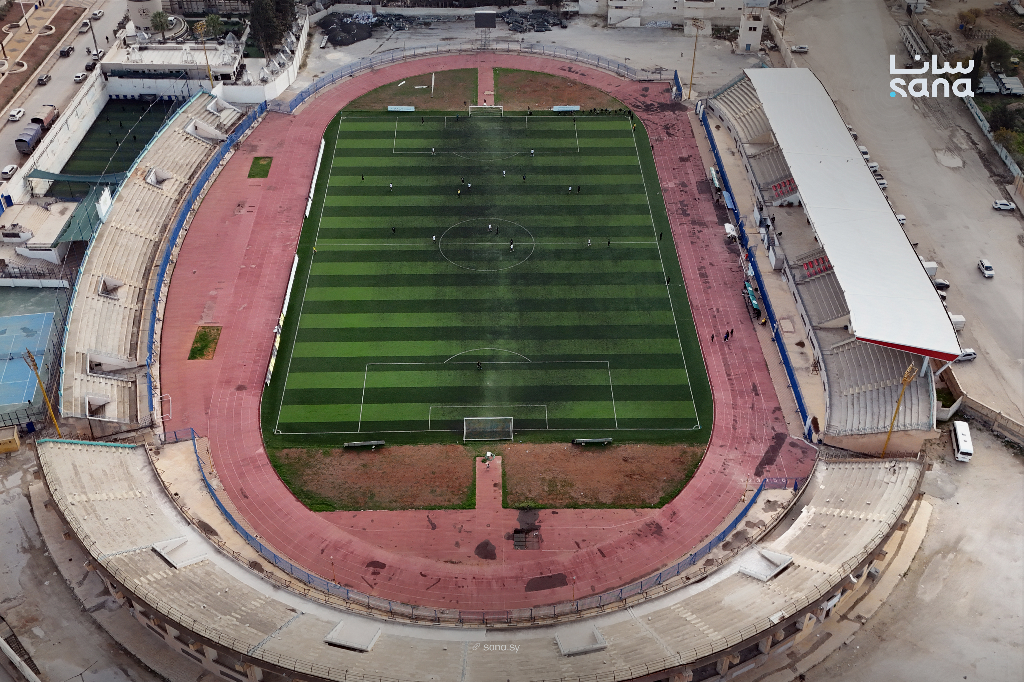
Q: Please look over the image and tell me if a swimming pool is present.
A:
No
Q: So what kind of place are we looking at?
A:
sports ground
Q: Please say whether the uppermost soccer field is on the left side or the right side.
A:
left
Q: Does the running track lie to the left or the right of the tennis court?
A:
right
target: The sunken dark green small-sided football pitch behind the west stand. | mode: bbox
[48,95,185,197]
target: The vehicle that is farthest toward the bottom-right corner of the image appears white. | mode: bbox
[950,423,973,467]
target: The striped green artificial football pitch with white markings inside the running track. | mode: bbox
[263,106,712,468]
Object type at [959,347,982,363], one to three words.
car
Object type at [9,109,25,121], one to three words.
vehicle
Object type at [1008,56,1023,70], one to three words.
vehicle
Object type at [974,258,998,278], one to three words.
car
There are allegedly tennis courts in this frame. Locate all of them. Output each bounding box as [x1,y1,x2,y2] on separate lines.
[0,289,69,425]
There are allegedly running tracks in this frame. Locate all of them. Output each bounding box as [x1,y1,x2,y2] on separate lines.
[159,53,818,613]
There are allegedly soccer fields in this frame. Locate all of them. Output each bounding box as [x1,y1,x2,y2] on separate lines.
[263,106,712,468]
[48,95,185,197]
